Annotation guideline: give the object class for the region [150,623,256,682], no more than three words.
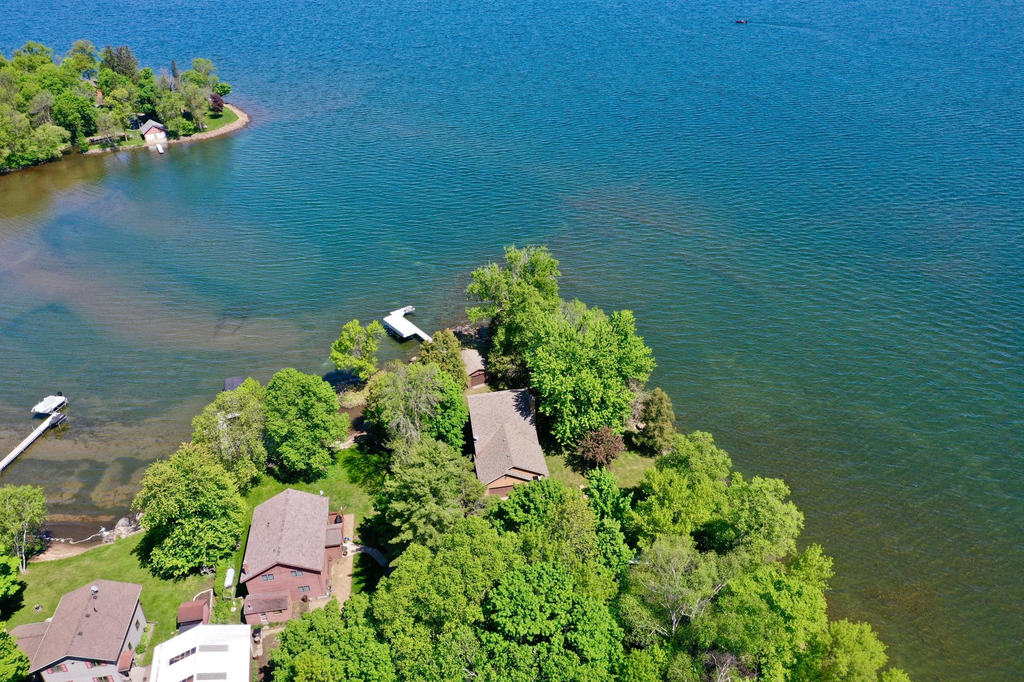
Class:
barn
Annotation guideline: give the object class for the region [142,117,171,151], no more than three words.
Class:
building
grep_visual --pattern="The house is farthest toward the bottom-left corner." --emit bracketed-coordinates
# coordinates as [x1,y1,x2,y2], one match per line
[11,577,151,682]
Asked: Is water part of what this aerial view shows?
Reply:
Yes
